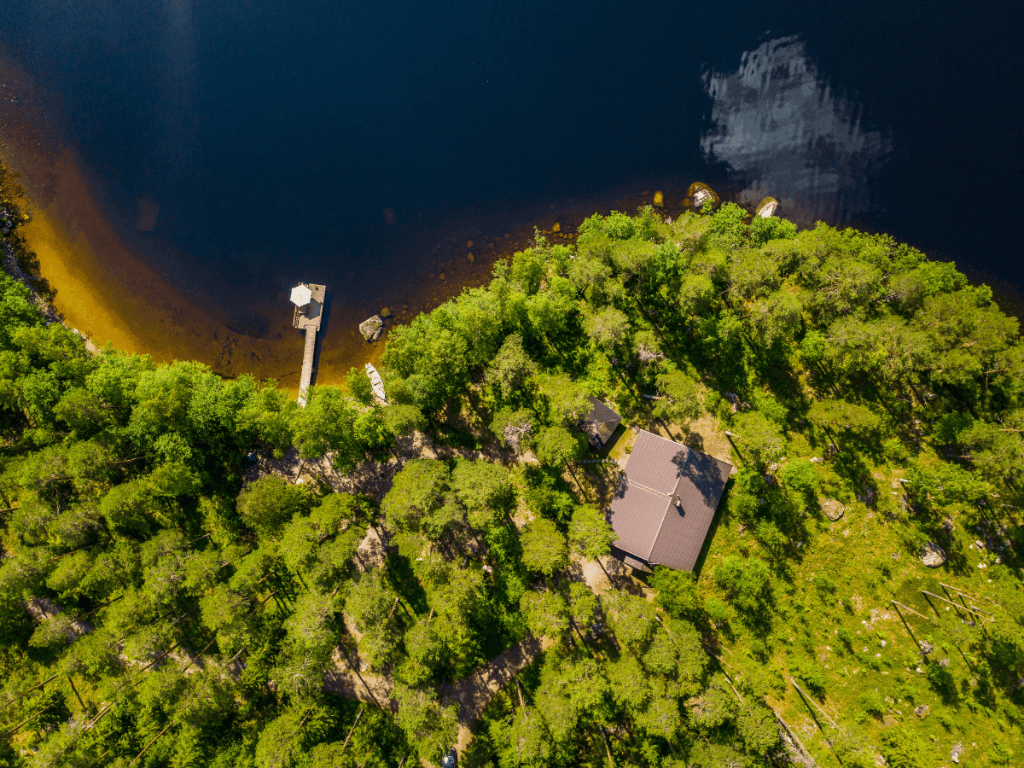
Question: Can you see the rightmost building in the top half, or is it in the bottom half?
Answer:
bottom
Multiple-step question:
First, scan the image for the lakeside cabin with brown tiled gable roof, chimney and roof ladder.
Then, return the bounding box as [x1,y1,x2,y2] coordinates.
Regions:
[602,430,730,574]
